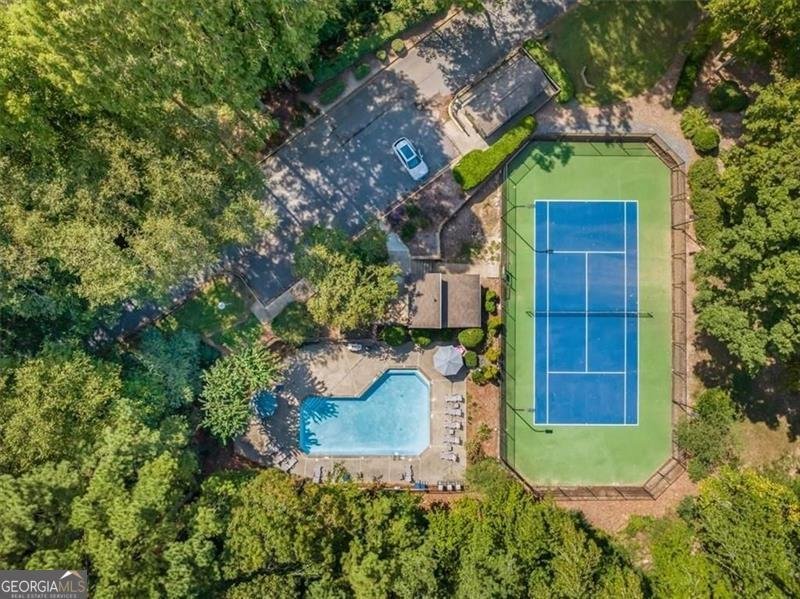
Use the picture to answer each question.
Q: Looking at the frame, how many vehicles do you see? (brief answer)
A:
one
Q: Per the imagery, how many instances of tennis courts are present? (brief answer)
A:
1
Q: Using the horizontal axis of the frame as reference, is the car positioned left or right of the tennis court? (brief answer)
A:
to the left of it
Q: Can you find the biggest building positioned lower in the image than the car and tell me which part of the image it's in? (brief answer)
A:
center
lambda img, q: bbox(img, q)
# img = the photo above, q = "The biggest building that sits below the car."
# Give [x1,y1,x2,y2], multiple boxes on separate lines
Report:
[412,274,482,329]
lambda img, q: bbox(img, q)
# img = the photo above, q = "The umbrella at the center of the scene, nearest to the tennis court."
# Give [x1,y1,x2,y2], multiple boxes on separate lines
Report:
[434,344,462,374]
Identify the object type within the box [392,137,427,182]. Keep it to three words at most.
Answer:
car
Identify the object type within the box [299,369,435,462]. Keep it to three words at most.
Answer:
swimming pool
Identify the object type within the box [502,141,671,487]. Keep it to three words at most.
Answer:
tennis court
